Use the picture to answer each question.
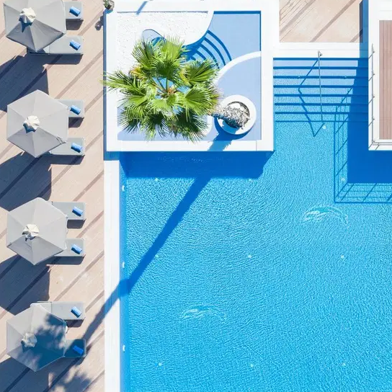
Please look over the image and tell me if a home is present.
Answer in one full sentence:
No, I can't see a single home in this photo.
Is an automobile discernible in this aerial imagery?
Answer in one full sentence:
No, there appears to be no automobile in this shot.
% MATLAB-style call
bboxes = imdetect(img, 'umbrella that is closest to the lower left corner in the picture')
[5,302,68,372]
